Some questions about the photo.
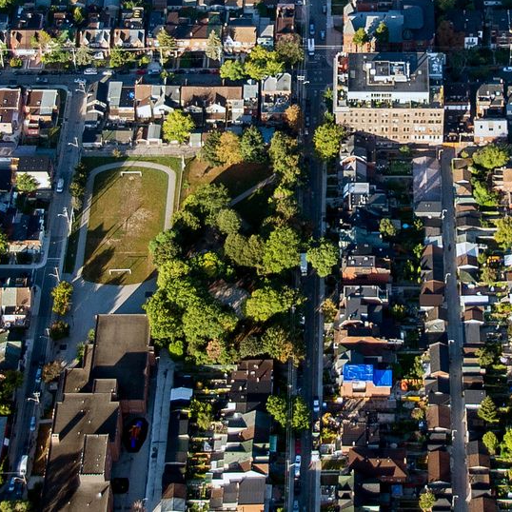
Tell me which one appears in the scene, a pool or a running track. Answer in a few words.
running track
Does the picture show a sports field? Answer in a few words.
Yes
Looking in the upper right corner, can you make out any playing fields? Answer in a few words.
No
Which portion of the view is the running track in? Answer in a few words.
left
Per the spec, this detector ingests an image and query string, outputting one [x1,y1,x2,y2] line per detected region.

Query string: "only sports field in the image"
[84,167,168,284]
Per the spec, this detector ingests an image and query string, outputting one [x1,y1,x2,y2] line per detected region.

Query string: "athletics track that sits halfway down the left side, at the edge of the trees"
[69,161,178,287]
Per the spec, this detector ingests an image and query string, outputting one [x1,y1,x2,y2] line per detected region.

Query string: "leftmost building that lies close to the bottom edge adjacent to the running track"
[45,315,149,512]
